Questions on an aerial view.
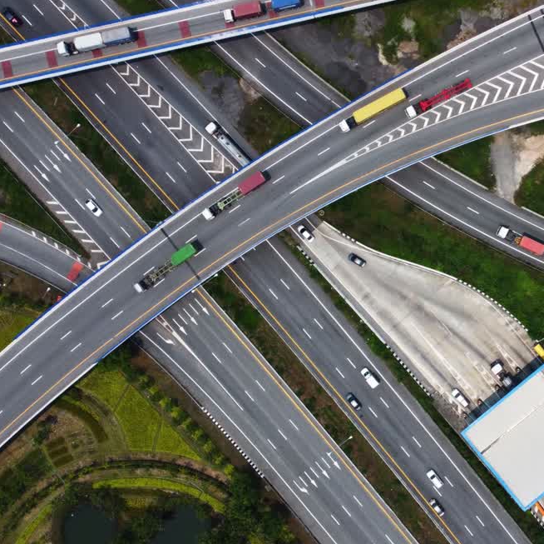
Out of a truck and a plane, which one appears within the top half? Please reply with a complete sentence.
Visible within the top half is a truck.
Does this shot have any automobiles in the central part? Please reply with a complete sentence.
Yes, an automobile can be seen in the central part.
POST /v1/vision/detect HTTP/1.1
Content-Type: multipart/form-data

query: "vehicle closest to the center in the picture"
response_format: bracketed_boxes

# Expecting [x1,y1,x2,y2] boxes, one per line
[297,224,315,242]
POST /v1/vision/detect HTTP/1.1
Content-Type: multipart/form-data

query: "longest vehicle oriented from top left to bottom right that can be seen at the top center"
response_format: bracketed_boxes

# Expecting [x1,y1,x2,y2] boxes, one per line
[201,121,251,171]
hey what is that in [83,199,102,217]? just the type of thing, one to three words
car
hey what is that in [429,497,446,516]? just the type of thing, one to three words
car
